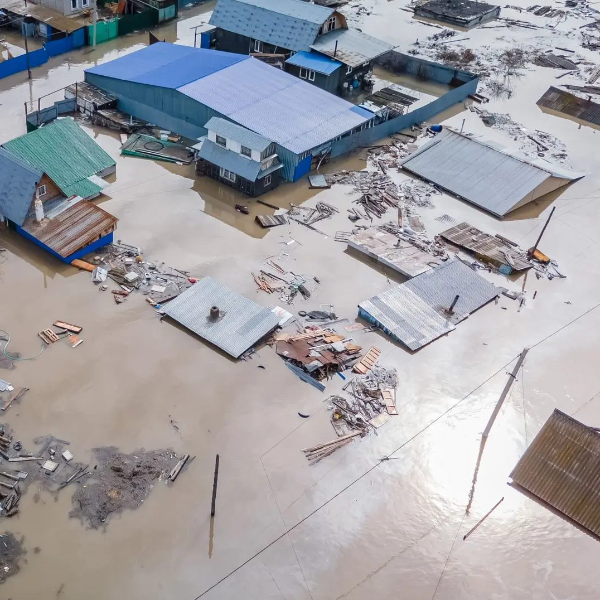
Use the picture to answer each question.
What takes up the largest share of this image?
water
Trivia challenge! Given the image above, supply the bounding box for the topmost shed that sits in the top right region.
[414,0,501,30]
